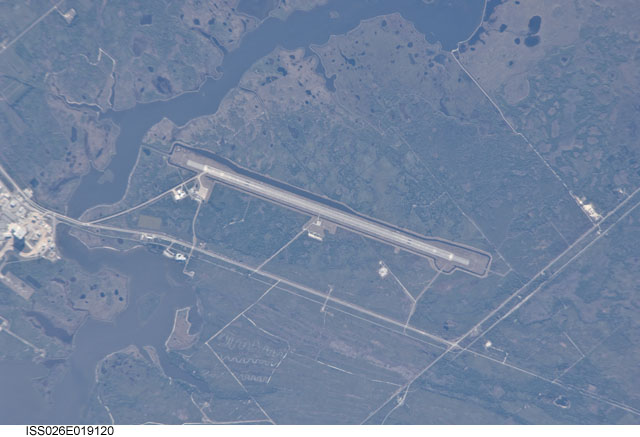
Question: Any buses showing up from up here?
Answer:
No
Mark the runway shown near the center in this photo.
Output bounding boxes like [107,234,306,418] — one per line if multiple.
[204,165,452,259]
